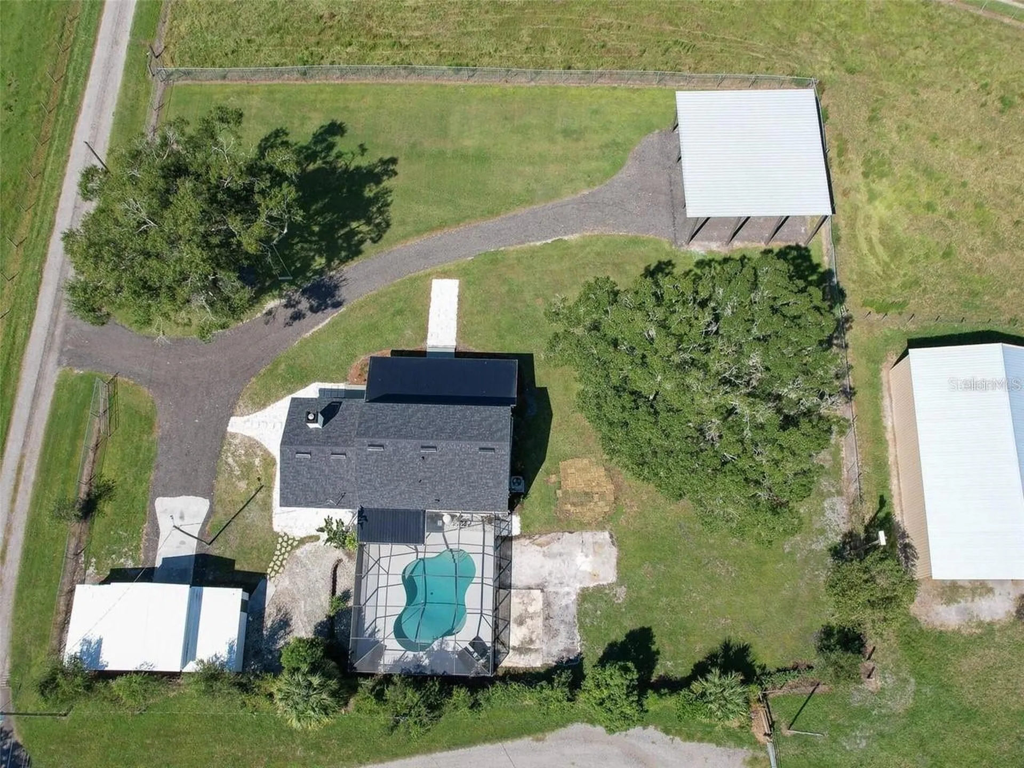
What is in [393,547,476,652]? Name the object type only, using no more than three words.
swimming pool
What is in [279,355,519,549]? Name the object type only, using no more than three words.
house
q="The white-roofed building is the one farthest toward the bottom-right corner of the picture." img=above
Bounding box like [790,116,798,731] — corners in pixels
[890,340,1024,584]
